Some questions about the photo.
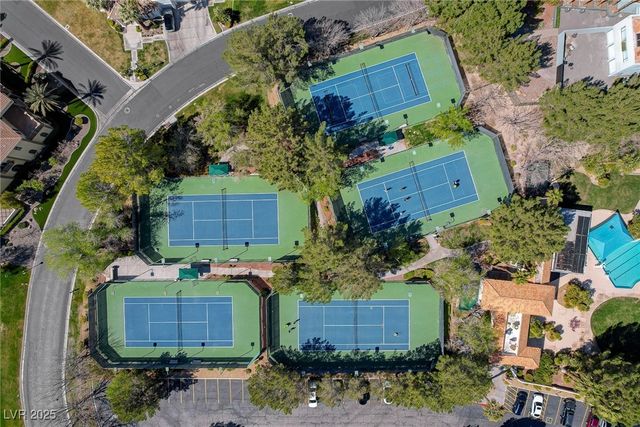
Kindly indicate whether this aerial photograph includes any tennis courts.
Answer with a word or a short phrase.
Yes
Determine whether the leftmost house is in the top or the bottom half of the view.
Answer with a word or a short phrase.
top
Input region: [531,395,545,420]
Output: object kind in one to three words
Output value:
vehicle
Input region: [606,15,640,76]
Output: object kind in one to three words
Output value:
house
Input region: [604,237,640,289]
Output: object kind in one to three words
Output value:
swimming pool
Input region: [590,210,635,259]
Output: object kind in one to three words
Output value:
swimming pool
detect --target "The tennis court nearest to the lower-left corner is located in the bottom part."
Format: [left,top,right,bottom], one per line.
[97,280,262,363]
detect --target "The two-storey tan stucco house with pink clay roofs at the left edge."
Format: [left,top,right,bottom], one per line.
[0,83,58,190]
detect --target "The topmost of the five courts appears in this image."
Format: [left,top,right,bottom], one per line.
[279,31,461,157]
